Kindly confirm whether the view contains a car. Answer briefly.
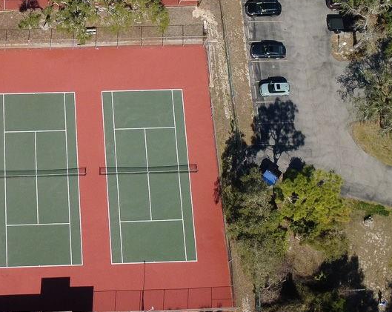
Yes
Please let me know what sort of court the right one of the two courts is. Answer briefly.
tennis court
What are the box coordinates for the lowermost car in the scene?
[260,79,292,97]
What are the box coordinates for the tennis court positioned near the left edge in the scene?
[0,91,83,269]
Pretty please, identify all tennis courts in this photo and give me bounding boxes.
[101,89,198,264]
[0,91,83,269]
